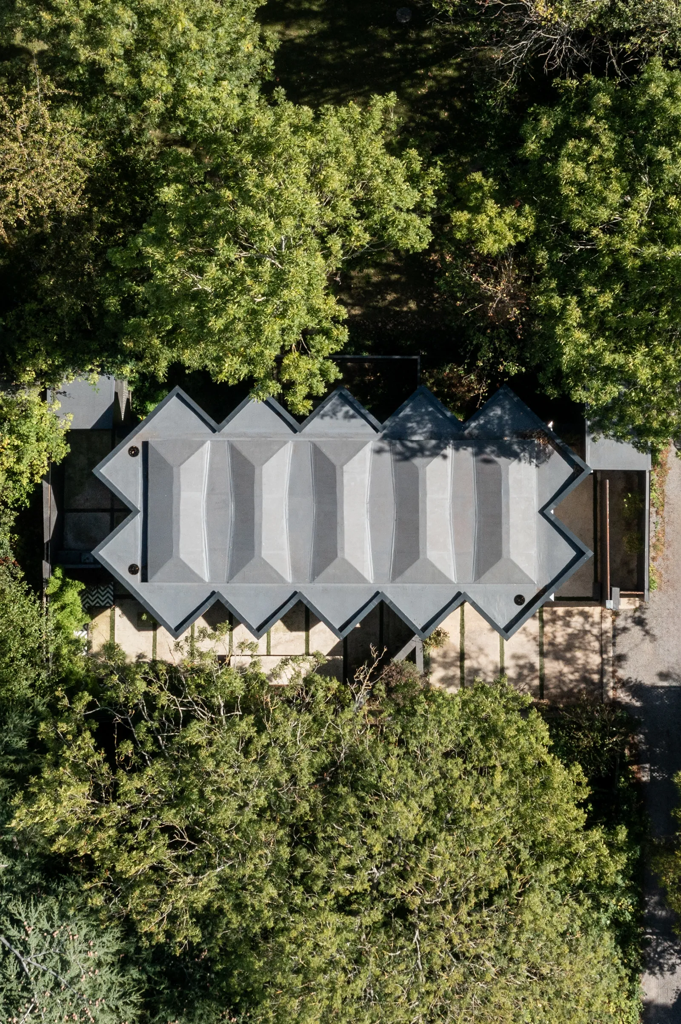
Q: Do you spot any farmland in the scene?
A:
No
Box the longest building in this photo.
[91,385,593,640]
